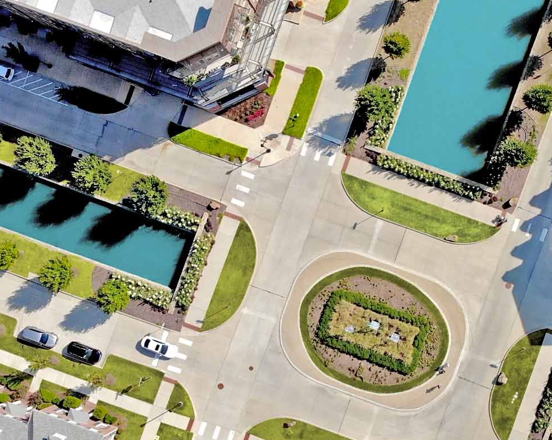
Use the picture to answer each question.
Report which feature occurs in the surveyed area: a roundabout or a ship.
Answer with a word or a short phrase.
roundabout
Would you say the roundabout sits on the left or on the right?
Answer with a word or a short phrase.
right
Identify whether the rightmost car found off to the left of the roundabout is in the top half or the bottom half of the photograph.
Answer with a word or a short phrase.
bottom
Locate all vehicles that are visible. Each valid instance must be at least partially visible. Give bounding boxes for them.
[15,326,59,349]
[59,341,104,365]
[0,62,17,81]
[139,335,180,359]
[491,217,506,226]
